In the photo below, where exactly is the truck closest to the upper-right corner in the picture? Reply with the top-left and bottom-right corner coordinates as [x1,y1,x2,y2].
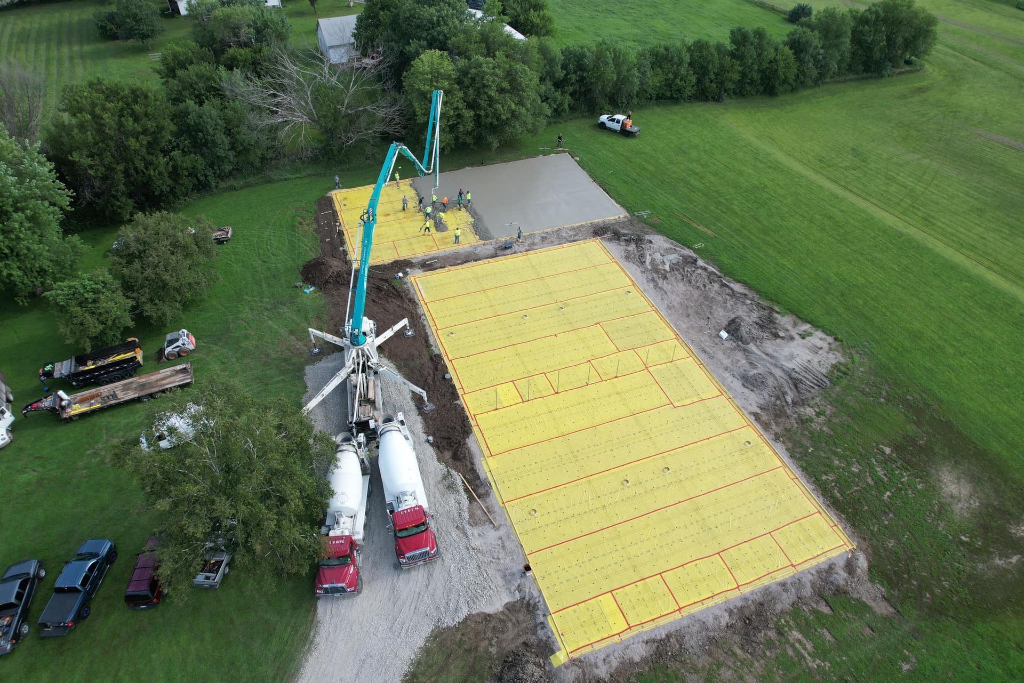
[597,114,645,138]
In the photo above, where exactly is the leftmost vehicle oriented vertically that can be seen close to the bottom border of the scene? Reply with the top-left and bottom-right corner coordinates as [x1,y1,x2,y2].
[0,553,48,664]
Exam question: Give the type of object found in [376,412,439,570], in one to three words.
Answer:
truck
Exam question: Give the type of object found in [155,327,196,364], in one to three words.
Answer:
work vehicle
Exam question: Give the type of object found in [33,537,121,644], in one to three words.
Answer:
truck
